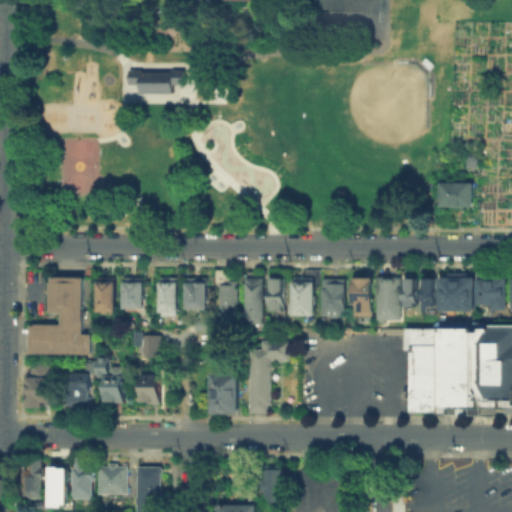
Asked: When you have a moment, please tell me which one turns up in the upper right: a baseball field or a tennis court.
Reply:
baseball field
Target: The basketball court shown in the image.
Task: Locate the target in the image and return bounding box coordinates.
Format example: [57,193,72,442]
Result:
[62,138,100,196]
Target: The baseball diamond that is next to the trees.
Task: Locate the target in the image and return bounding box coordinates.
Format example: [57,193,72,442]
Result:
[350,62,431,148]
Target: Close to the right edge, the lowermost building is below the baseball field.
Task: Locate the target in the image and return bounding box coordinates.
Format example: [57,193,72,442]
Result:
[403,326,512,414]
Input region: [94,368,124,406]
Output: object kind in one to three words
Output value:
house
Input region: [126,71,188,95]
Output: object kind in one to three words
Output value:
building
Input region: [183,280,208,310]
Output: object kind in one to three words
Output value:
house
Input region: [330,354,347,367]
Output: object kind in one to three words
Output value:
vehicle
